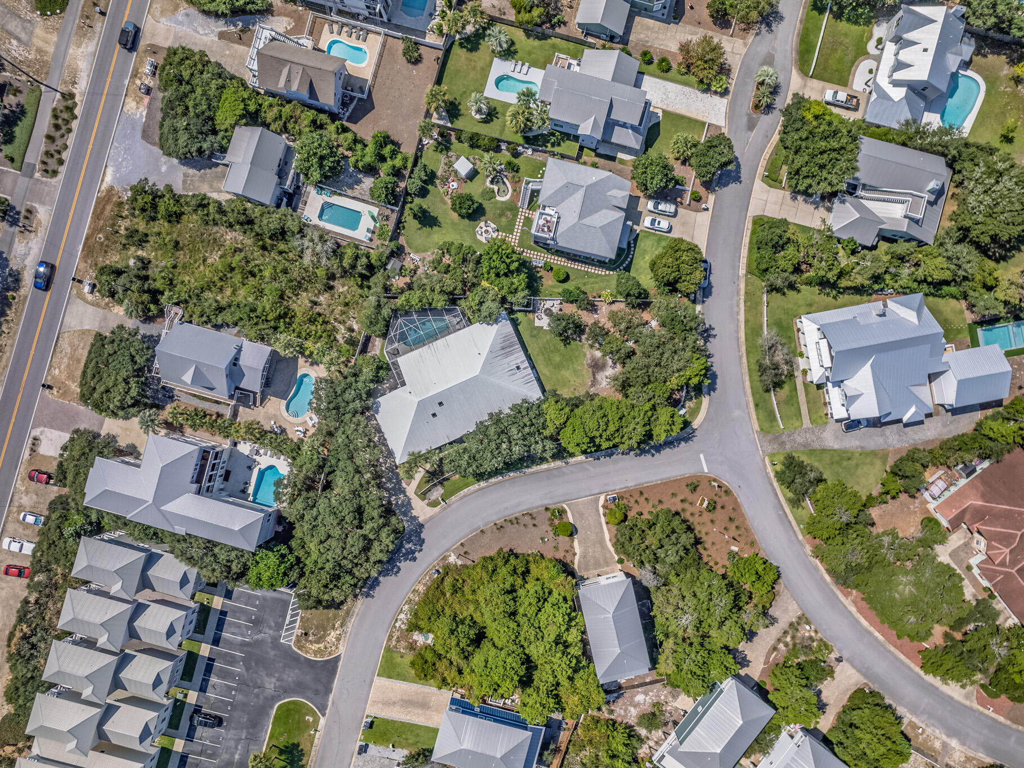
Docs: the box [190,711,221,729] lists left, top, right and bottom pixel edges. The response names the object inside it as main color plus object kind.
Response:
black car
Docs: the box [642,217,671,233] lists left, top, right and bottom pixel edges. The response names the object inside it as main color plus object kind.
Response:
white car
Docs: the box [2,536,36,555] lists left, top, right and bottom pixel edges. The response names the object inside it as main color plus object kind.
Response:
white vehicle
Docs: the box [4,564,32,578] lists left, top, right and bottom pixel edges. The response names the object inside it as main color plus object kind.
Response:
red car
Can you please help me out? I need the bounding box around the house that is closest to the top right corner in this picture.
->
[860,4,974,130]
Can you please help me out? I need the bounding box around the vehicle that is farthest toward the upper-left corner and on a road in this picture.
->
[118,21,138,49]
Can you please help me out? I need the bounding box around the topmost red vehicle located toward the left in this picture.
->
[28,469,58,486]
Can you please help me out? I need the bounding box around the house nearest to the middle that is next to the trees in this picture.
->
[373,316,544,465]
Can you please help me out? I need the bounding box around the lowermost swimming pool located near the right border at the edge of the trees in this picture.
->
[976,320,1024,352]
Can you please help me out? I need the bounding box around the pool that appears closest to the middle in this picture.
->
[399,315,451,348]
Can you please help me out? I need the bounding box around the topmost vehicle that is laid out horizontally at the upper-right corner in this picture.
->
[824,90,860,109]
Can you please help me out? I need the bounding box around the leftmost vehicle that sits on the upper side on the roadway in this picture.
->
[36,262,56,291]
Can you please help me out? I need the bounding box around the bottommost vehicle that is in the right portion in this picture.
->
[839,418,867,432]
